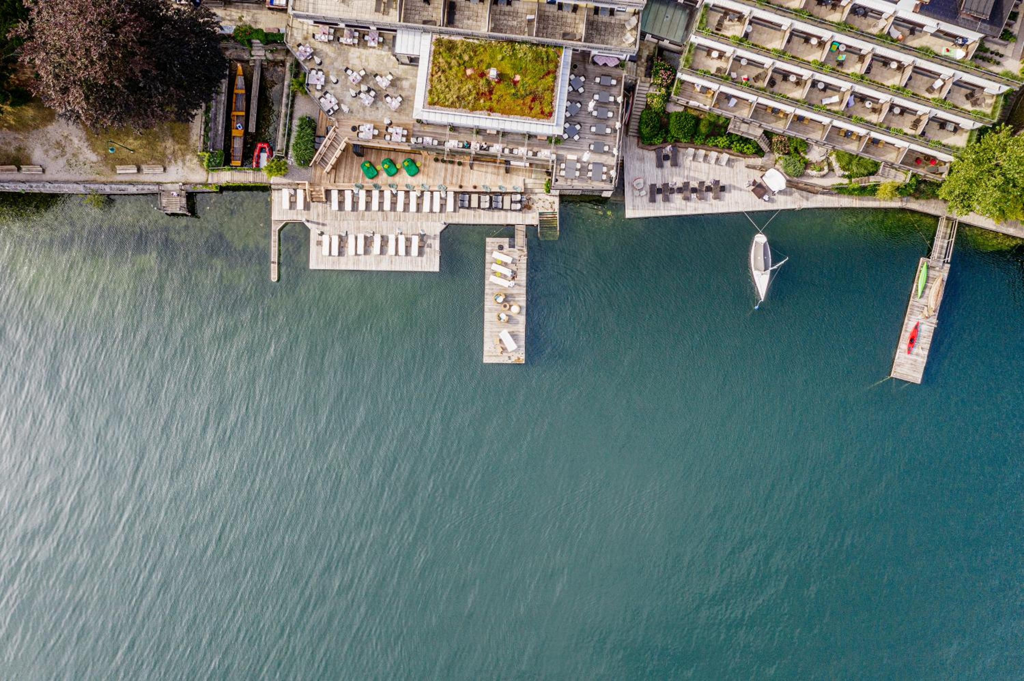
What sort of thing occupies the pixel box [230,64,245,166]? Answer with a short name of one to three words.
boat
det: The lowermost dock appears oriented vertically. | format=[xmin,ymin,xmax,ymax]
[890,258,950,384]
